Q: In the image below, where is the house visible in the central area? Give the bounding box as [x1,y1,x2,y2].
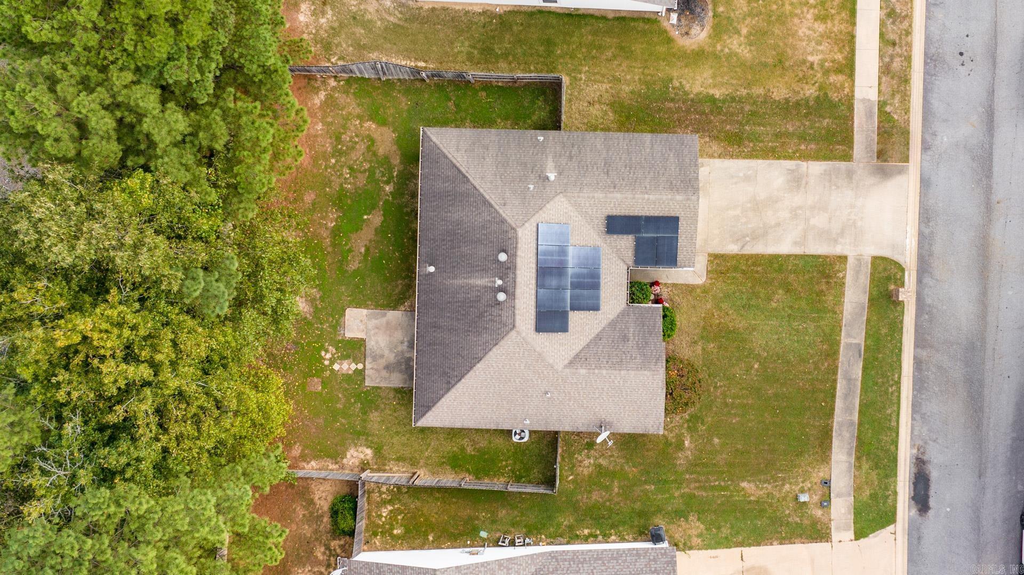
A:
[412,127,699,434]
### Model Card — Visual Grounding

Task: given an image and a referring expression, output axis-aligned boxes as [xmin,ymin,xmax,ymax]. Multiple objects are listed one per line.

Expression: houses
[412,127,699,434]
[419,0,677,21]
[342,543,678,575]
